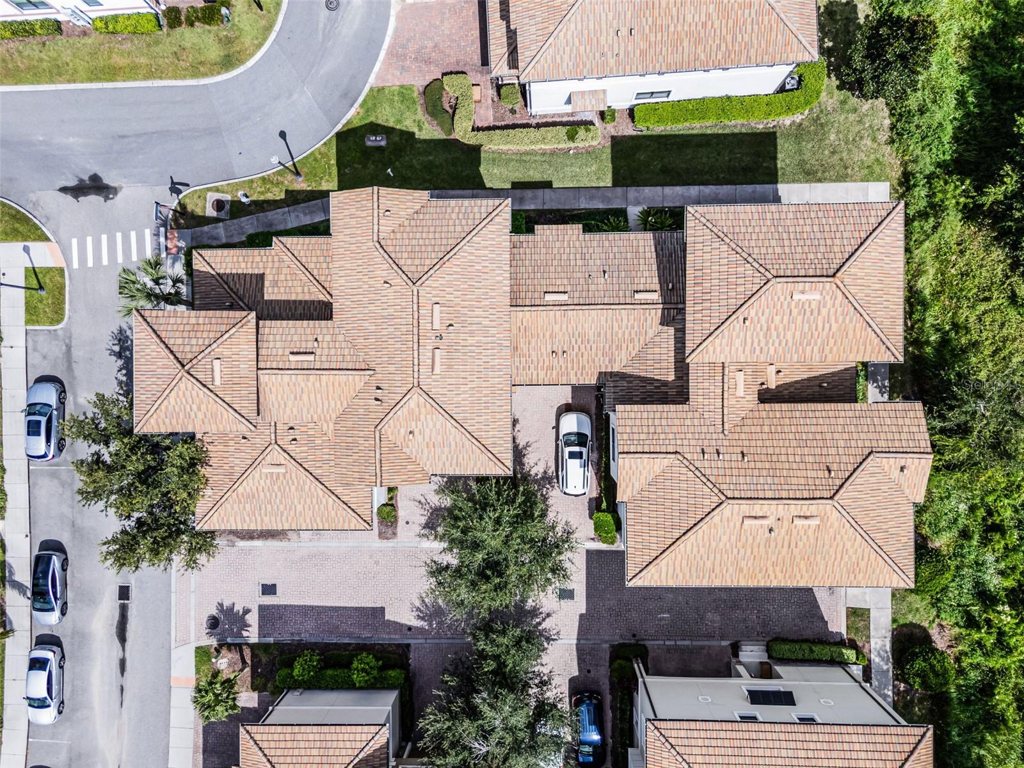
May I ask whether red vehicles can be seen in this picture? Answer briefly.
No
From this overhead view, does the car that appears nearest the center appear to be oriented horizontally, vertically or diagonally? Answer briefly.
vertically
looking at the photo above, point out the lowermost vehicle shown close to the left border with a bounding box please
[19,644,64,722]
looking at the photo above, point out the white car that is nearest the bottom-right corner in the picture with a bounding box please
[554,410,595,496]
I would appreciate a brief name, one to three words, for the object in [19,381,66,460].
car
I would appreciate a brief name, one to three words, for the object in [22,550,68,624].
car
